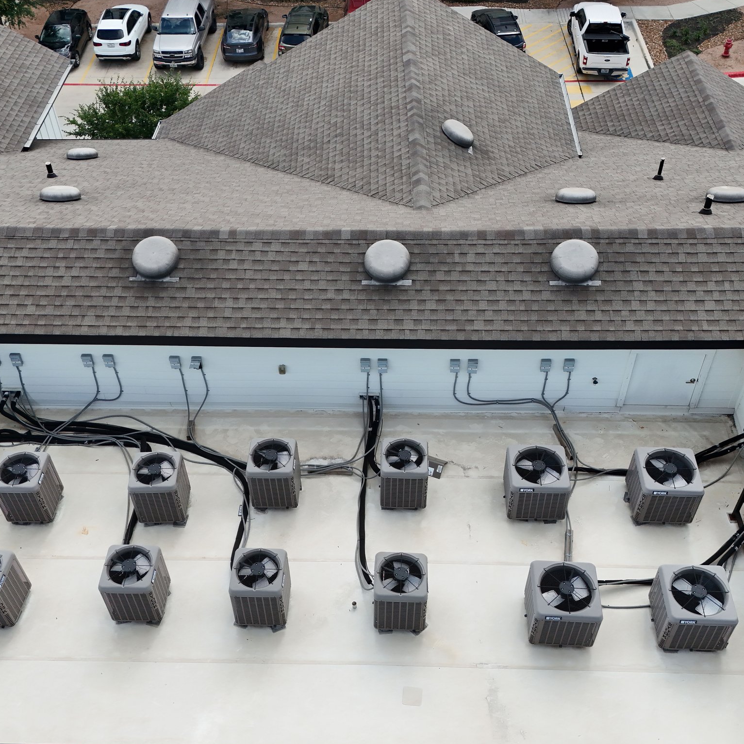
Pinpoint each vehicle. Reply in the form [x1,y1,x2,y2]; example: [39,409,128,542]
[30,4,92,64]
[214,9,268,60]
[86,5,150,62]
[567,0,636,69]
[473,0,528,50]
[147,0,216,70]
[282,0,332,50]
